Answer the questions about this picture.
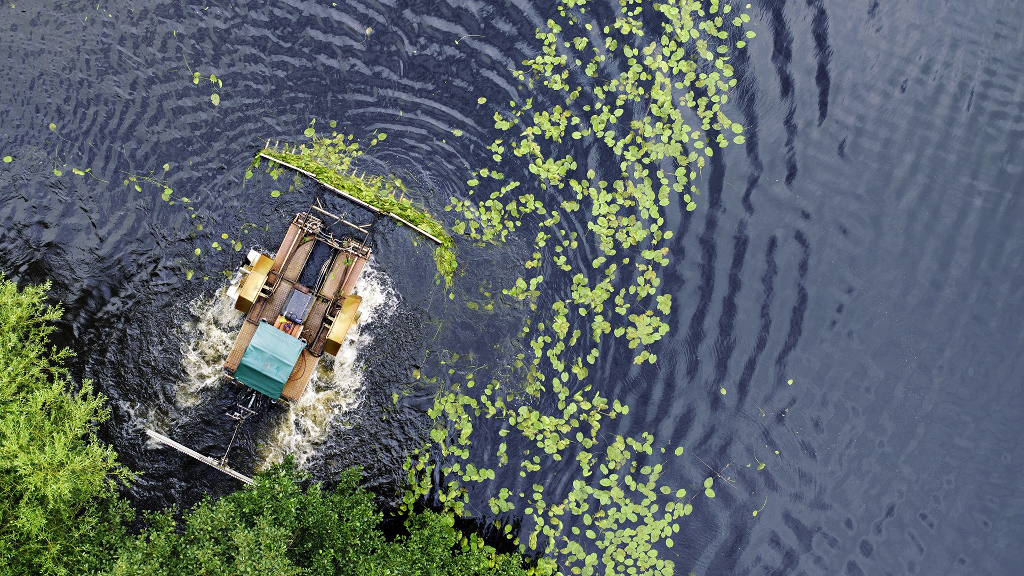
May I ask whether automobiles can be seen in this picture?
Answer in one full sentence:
No, I can see no automobile in this picture.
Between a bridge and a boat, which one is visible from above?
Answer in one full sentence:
The image shows a boat.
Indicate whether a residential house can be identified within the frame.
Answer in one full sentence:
No, this view has no residential house in it.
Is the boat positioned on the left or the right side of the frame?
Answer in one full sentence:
The boat appears in the left half of the scene.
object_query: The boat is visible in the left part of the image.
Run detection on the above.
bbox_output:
[146,138,448,486]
